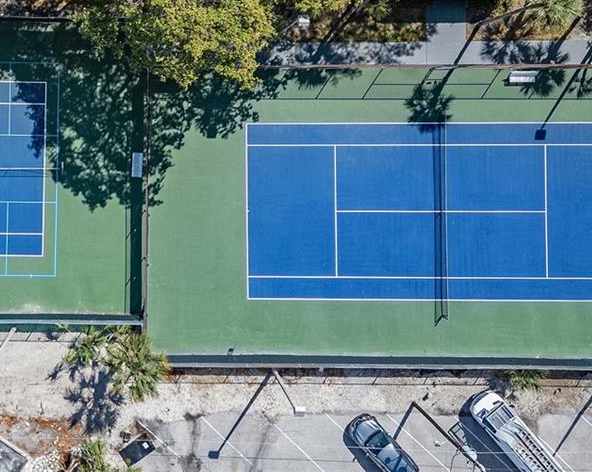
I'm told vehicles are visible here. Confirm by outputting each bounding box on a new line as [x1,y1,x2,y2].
[470,389,560,472]
[347,412,413,472]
